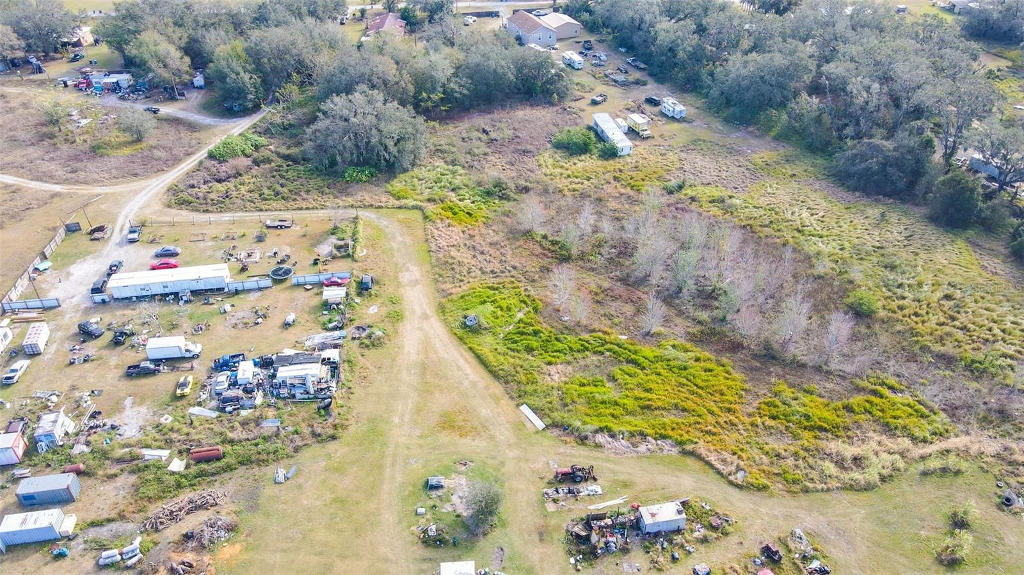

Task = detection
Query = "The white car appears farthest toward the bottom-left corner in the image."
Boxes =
[0,357,37,384]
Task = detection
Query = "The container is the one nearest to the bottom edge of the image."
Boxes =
[0,504,69,553]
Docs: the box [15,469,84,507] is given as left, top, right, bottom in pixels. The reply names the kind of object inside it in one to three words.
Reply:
shipping container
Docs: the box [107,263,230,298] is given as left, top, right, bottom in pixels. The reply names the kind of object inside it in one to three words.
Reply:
house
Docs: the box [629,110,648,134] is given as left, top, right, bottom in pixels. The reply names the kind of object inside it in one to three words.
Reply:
vehicle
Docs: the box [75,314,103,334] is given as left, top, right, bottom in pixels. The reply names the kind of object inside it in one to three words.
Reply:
car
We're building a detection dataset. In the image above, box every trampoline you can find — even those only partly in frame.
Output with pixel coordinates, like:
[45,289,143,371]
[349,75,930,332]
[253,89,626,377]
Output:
[268,269,294,285]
